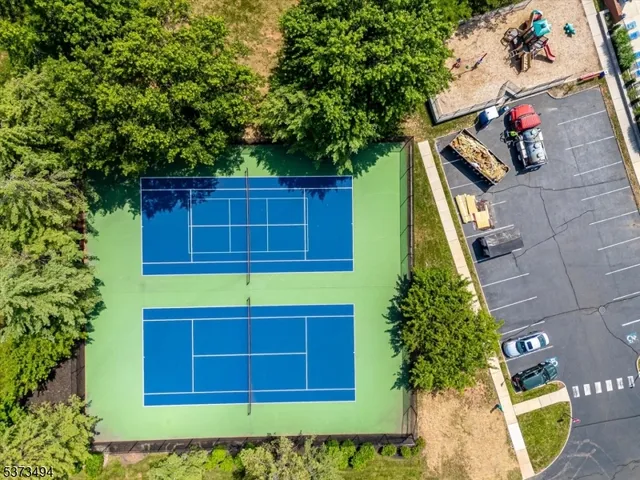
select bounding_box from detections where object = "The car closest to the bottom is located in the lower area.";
[511,362,557,391]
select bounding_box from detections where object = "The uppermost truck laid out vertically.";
[510,104,549,170]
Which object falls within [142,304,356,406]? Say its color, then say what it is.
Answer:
blue tennis court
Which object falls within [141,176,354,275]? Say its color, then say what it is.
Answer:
blue tennis court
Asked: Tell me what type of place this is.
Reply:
sports ground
